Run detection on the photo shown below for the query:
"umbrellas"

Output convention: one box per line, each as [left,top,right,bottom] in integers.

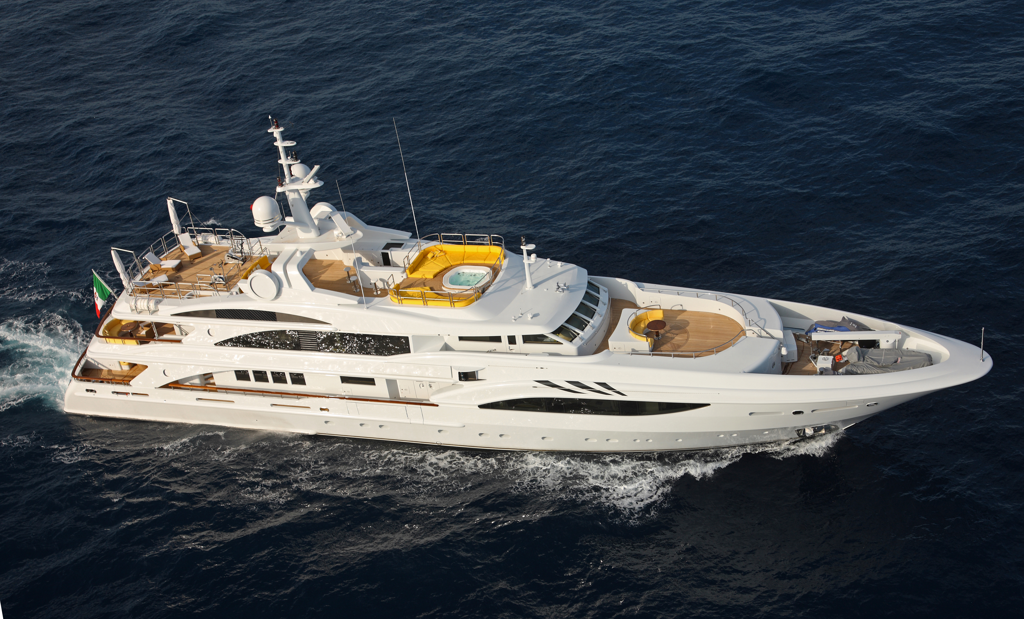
[168,196,212,245]
[111,247,151,296]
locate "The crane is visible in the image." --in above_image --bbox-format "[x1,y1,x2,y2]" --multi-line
[807,331,902,356]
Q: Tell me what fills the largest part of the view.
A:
water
